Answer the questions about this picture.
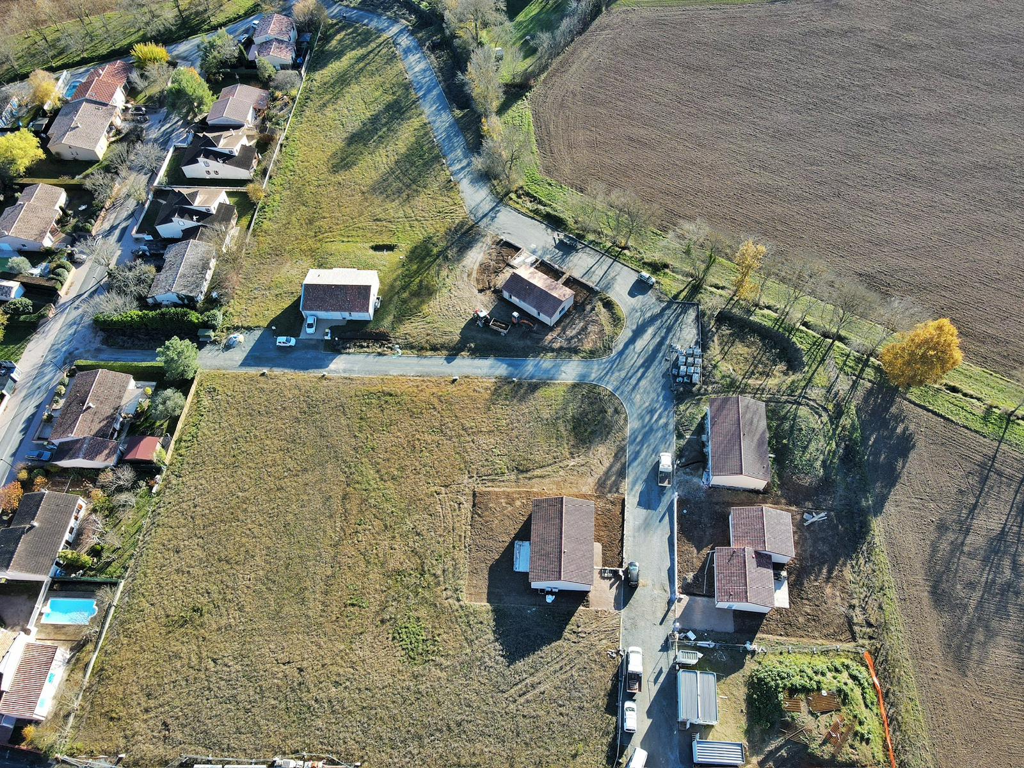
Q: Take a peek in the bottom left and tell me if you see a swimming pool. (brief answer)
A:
Yes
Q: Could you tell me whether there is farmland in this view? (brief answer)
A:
Yes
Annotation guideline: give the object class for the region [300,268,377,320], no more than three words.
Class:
house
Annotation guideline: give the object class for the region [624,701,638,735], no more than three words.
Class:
car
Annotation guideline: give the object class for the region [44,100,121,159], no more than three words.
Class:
house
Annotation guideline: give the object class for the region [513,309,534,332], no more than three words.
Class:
work vehicle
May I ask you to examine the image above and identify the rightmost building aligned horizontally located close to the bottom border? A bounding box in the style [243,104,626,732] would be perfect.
[691,740,744,763]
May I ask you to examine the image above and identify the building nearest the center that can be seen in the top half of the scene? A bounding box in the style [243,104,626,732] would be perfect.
[502,264,574,332]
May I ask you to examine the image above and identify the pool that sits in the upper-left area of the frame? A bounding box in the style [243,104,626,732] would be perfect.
[64,82,79,97]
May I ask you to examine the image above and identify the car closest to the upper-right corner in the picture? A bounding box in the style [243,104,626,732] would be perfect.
[636,270,658,287]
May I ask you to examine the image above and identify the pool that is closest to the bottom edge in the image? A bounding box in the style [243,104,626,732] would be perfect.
[40,599,99,624]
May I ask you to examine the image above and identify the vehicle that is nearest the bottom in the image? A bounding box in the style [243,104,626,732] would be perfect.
[628,745,649,768]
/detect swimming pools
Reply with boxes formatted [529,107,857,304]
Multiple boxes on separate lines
[40,599,99,624]
[64,82,79,97]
